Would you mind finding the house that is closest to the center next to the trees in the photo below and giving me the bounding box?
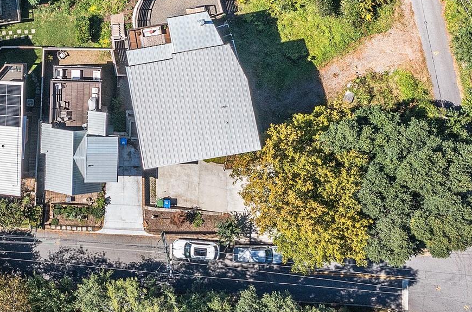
[126,12,260,169]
